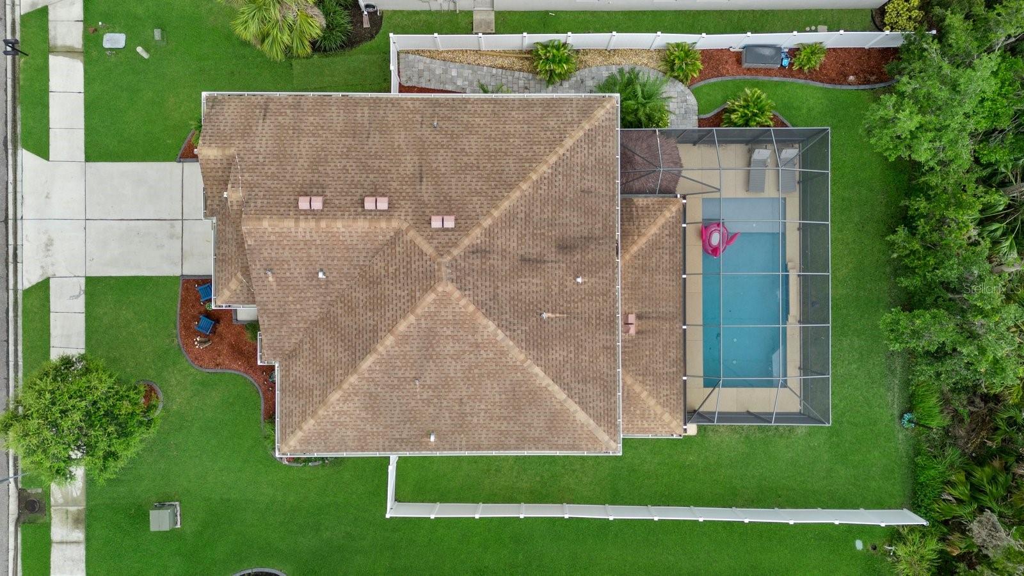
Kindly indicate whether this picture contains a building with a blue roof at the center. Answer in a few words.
No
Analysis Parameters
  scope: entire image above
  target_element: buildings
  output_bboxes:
[193,93,686,456]
[361,0,891,14]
